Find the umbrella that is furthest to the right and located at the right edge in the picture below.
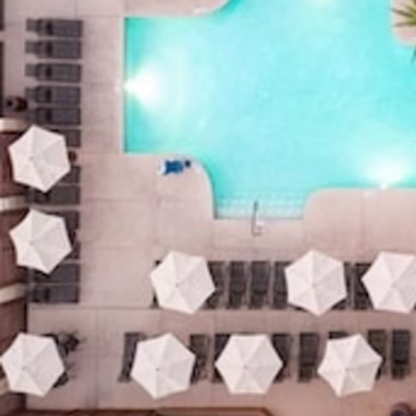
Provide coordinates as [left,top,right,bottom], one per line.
[363,251,416,314]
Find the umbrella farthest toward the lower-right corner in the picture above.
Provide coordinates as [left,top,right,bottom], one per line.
[318,332,383,396]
